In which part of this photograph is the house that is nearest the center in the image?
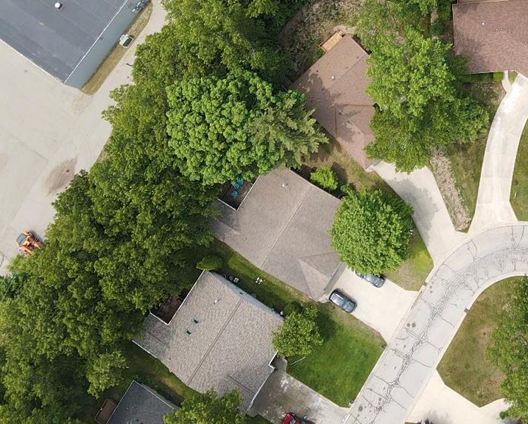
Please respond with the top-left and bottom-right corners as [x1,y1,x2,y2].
[204,158,353,301]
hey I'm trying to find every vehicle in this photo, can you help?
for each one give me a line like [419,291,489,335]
[354,270,385,287]
[6,229,41,256]
[281,414,304,424]
[326,289,357,313]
